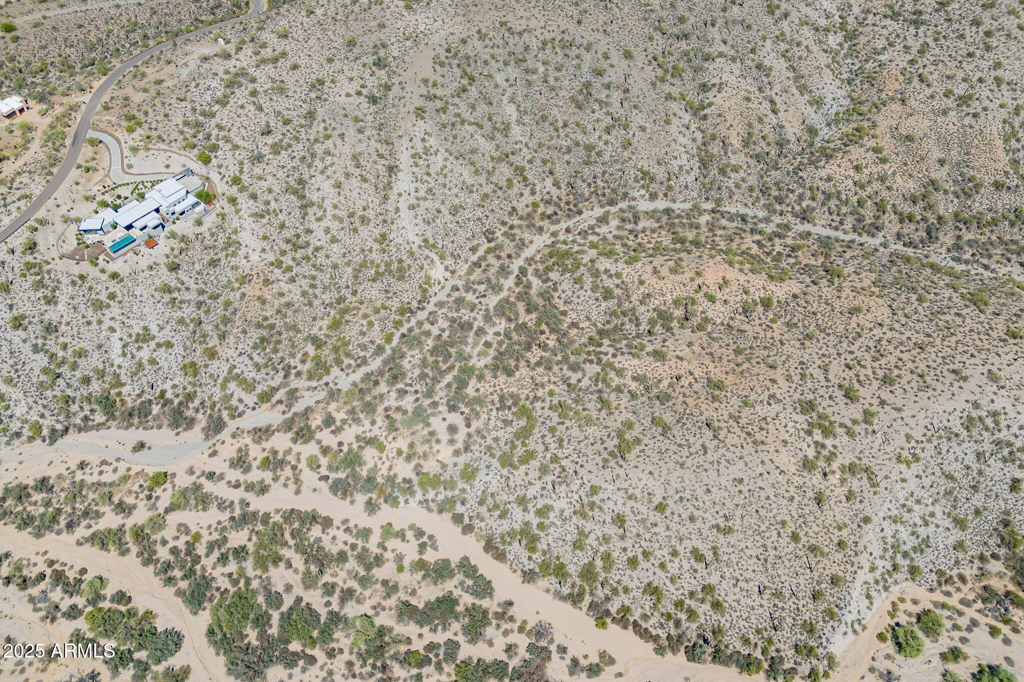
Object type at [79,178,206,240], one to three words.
house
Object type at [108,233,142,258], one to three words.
swimming pool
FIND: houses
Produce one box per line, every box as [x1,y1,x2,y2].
[79,178,206,240]
[0,96,30,121]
